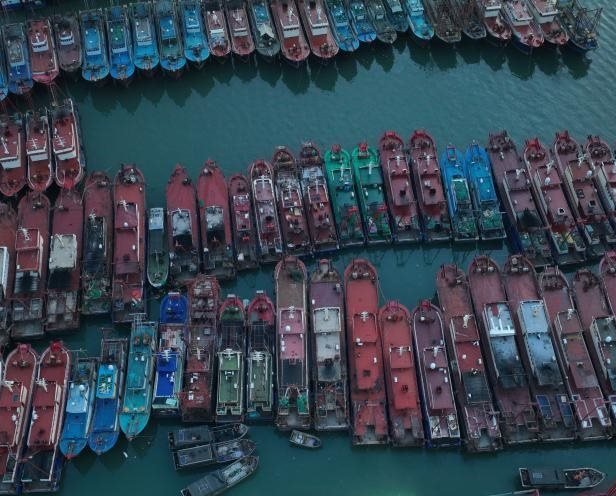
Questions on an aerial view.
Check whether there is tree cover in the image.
No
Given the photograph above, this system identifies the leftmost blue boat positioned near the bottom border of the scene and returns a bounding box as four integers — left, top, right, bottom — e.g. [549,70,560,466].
[59,357,100,481]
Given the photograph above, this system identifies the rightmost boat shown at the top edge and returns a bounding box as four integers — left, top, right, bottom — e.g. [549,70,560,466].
[562,0,607,70]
